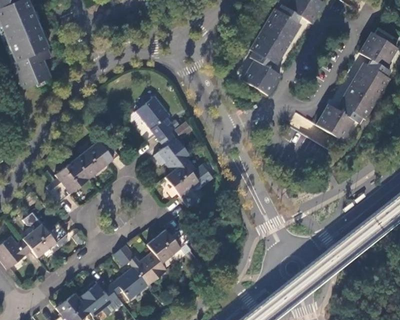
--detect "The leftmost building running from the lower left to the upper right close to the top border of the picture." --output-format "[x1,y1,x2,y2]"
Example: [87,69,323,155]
[237,0,326,98]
